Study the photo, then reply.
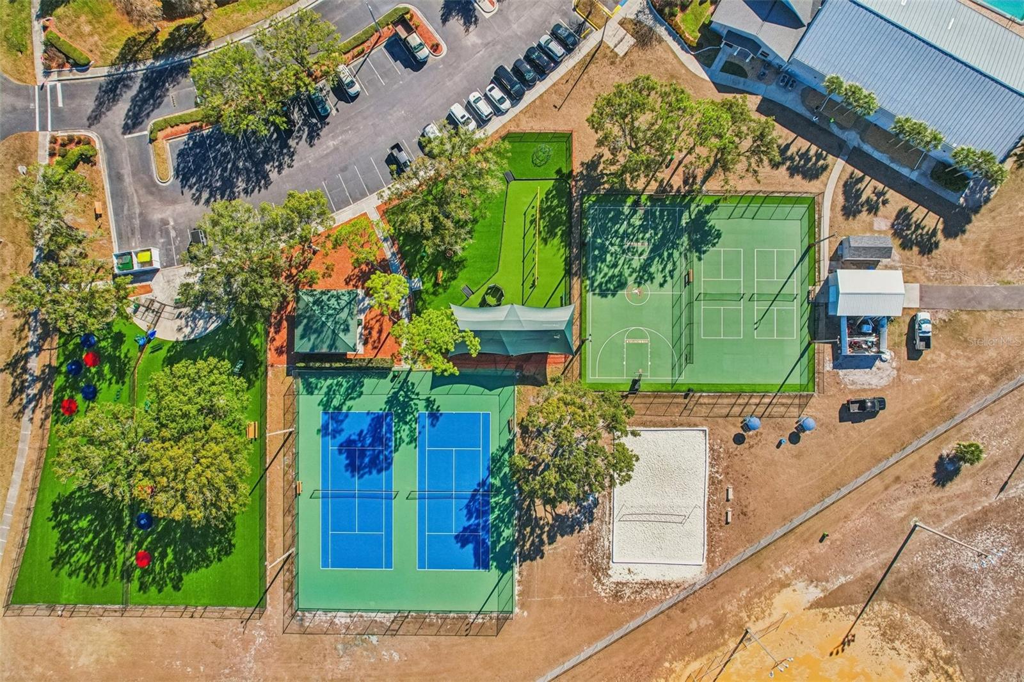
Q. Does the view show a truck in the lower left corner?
No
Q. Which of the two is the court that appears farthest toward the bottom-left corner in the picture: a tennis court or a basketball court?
tennis court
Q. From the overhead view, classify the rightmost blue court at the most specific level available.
tennis court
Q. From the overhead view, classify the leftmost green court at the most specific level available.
basketball court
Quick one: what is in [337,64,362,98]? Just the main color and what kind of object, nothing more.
white vehicle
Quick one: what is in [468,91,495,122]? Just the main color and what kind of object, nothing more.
white car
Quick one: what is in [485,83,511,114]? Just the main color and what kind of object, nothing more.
white car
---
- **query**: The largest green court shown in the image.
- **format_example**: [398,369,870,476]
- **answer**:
[589,206,685,380]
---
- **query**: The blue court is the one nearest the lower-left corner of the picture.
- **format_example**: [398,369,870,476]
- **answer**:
[312,412,400,570]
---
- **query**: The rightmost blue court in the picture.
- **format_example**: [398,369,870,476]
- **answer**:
[410,412,497,571]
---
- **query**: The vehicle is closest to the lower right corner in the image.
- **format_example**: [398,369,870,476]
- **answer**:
[844,397,886,413]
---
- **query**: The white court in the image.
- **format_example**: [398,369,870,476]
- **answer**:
[612,429,708,565]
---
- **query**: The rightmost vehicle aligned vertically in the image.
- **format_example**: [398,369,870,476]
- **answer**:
[913,312,932,351]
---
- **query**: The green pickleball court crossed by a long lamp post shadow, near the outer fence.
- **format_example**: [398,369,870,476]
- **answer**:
[754,249,800,339]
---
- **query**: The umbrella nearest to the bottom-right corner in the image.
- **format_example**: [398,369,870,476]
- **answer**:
[802,418,815,431]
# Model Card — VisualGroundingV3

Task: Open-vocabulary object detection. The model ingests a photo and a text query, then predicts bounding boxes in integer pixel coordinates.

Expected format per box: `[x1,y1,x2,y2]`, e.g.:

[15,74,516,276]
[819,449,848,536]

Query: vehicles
[525,47,554,75]
[309,88,332,119]
[493,64,525,100]
[913,312,932,351]
[551,22,580,50]
[449,101,477,132]
[391,143,416,180]
[337,64,362,98]
[400,14,434,62]
[468,91,495,122]
[485,83,511,114]
[511,57,538,87]
[539,35,567,63]
[844,397,886,413]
